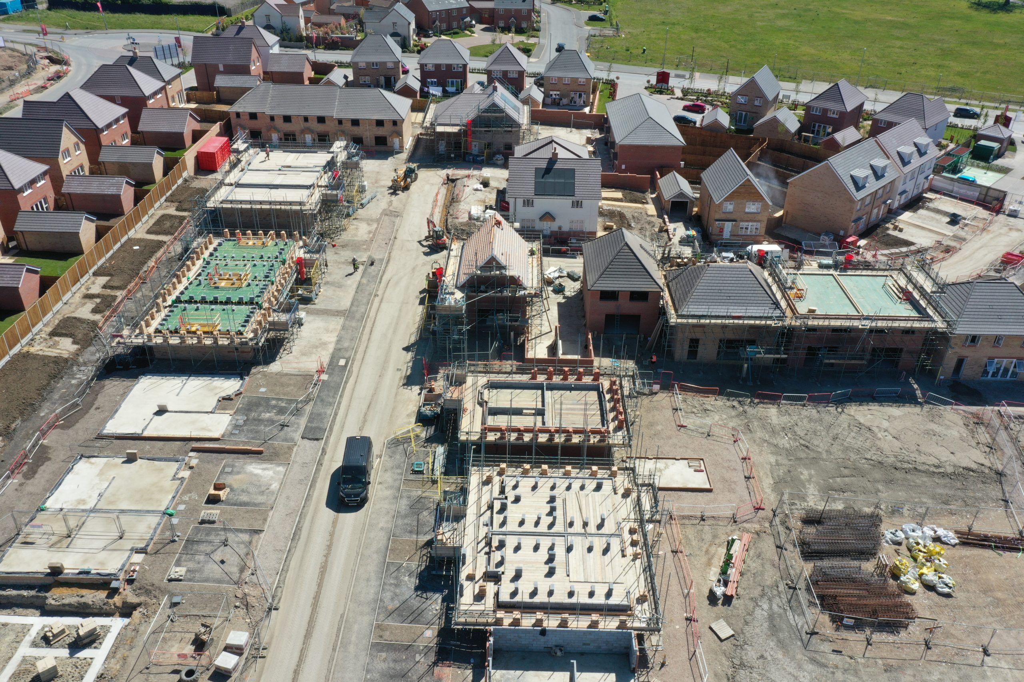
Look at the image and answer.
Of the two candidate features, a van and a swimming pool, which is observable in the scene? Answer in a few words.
van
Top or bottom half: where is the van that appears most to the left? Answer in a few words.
bottom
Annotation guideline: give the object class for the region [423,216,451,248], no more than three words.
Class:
work vehicle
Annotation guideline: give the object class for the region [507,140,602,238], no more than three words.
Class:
house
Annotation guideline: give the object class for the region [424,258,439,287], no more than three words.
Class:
vehicle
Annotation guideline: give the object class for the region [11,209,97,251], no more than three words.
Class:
building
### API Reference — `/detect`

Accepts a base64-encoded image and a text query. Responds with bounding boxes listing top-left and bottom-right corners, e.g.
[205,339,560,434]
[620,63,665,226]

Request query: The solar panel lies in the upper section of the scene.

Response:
[535,166,573,191]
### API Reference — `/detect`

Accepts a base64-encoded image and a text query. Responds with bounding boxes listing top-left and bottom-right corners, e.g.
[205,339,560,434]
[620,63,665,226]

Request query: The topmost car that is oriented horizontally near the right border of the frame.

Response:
[953,105,981,118]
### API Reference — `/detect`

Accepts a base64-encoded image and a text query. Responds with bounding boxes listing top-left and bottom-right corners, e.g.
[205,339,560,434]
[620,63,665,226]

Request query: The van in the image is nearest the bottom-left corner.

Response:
[335,436,378,502]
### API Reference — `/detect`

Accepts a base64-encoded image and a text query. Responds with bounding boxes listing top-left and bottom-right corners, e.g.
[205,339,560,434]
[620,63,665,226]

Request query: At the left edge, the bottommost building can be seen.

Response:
[0,260,41,307]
